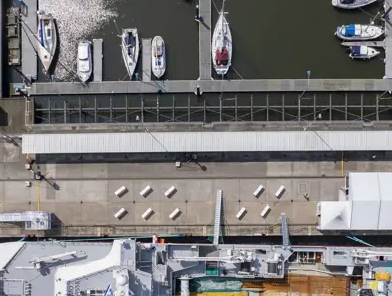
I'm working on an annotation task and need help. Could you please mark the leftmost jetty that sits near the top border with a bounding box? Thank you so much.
[20,0,36,78]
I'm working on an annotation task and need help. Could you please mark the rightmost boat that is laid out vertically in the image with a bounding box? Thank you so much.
[210,0,232,82]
